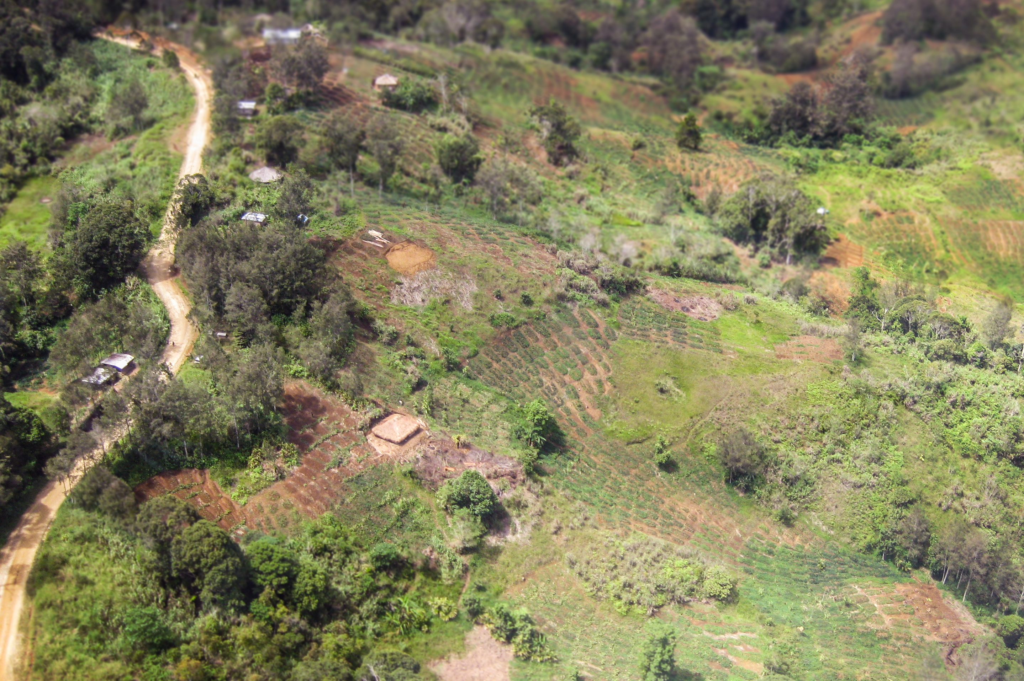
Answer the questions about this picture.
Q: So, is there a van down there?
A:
No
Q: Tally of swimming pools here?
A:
zero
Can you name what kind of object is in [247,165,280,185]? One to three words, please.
shed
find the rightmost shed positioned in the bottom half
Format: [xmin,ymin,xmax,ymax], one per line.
[371,414,422,450]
